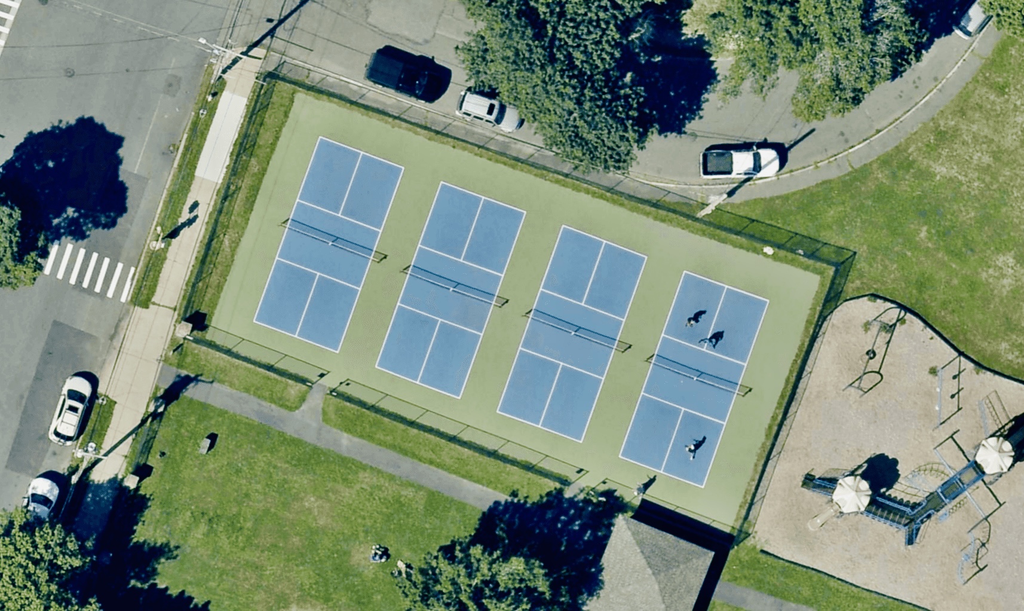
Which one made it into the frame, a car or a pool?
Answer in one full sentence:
Of the two, only a car appears.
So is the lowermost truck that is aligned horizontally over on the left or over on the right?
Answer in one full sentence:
The lowermost truck that is aligned horizontally appears in the right half of the scene.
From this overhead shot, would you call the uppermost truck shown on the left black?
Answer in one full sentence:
Yes, black is the color of the uppermost truck shown on the left.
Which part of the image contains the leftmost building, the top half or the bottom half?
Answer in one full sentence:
It is in the bottom half that the leftmost building appears.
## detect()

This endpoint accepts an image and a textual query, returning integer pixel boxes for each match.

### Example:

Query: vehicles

[363,47,451,102]
[454,88,526,134]
[49,375,90,450]
[699,146,782,182]
[952,0,994,38]
[9,478,52,543]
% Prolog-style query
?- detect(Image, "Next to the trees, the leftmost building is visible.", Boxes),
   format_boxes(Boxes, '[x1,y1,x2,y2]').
[584,514,714,611]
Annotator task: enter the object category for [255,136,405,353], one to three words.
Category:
sports court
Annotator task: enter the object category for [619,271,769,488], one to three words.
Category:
sports court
